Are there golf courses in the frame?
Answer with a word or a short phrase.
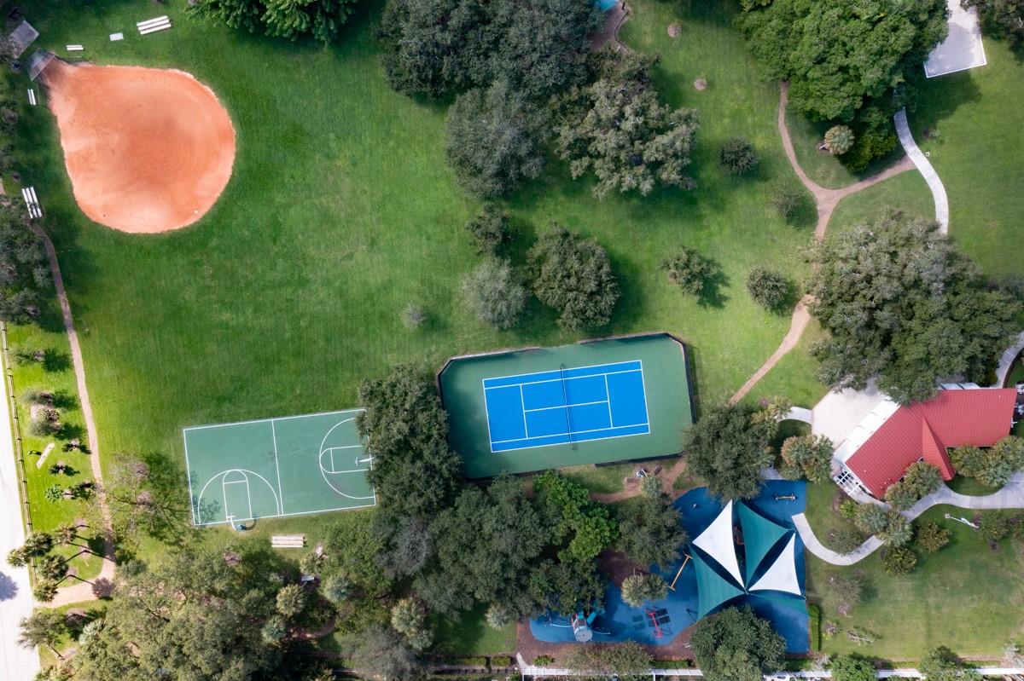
No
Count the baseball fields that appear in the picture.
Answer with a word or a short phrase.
one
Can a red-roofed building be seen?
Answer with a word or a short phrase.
Yes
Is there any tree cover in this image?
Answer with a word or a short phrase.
Yes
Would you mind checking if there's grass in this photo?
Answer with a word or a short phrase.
Yes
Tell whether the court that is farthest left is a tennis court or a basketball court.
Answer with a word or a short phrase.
basketball court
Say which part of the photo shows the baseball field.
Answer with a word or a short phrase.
top left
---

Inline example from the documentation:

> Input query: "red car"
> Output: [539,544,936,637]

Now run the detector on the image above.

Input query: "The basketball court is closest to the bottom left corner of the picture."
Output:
[182,409,377,526]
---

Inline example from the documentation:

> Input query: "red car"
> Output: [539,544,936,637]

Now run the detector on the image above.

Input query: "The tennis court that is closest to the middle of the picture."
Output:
[438,334,693,478]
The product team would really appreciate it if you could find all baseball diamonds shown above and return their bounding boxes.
[39,57,235,234]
